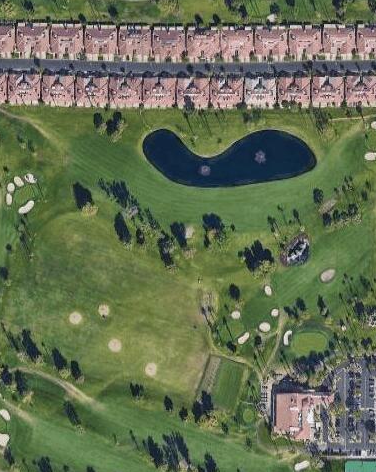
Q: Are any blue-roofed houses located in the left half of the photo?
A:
No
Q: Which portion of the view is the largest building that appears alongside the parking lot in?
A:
bottom right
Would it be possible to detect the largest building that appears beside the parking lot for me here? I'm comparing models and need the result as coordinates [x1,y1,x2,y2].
[262,376,336,441]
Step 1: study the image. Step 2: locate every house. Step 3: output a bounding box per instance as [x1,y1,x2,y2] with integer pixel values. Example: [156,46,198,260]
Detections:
[152,24,185,59]
[118,24,150,59]
[356,24,376,59]
[76,76,108,106]
[84,24,116,59]
[51,24,82,59]
[0,24,15,59]
[244,75,276,106]
[277,76,310,106]
[9,75,41,106]
[144,75,175,106]
[345,76,376,106]
[255,24,287,59]
[289,24,321,59]
[187,24,219,59]
[221,24,253,59]
[17,24,49,59]
[323,24,355,59]
[109,76,142,106]
[177,75,209,106]
[312,75,344,106]
[42,75,74,106]
[211,75,242,106]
